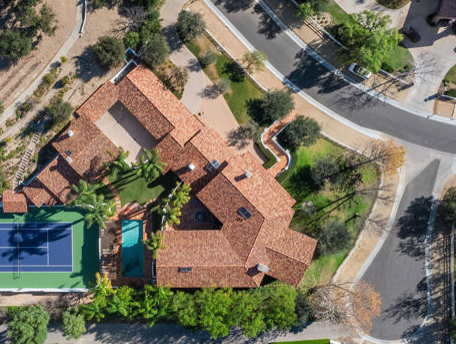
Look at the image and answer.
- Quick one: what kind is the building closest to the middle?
residential house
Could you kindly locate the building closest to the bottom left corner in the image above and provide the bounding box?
[2,190,29,213]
